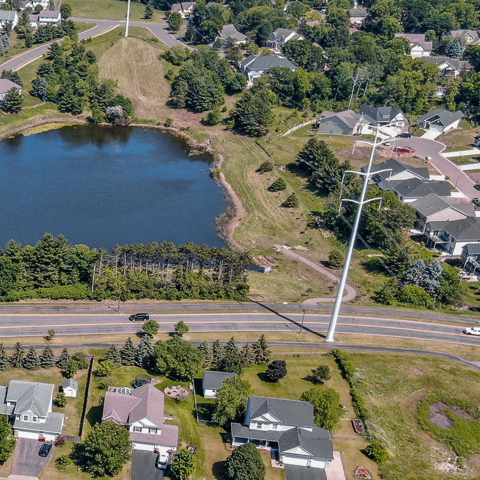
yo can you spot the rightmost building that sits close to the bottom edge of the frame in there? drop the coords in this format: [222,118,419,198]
[229,394,336,470]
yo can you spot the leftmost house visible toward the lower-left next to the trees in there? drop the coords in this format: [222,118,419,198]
[0,373,66,438]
